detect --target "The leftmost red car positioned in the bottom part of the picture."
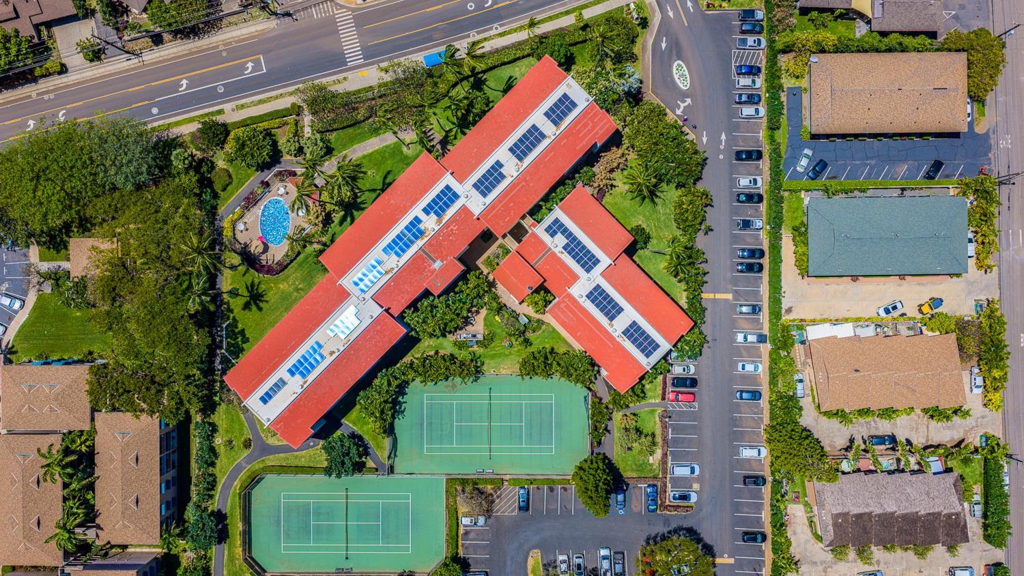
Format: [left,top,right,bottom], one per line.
[668,391,694,404]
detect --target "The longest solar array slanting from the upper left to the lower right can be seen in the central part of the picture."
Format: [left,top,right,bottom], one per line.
[542,217,599,274]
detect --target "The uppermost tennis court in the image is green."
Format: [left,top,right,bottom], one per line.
[390,376,591,474]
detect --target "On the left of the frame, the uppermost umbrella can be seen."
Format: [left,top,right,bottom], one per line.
[250,238,264,252]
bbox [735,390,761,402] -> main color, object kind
blue vehicle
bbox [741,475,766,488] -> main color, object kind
black vehicle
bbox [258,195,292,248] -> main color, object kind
blue swimming pool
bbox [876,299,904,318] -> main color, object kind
white car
